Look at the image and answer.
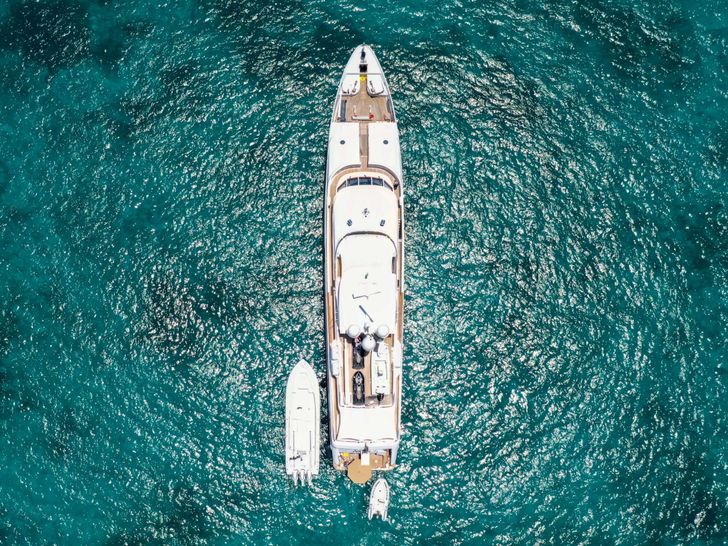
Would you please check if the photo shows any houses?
No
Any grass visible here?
No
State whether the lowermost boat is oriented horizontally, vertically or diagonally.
vertically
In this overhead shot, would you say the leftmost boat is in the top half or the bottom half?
bottom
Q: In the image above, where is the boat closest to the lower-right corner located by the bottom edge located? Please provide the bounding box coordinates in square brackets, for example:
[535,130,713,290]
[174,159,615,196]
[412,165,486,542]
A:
[368,478,388,520]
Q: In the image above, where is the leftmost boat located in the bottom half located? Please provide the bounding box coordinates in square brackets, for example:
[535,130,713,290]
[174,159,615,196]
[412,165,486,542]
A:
[285,358,319,487]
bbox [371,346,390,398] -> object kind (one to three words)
boat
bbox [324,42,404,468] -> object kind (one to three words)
boat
